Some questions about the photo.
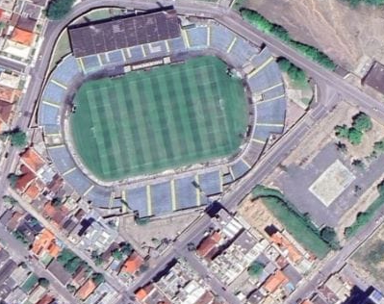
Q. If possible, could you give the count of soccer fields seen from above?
1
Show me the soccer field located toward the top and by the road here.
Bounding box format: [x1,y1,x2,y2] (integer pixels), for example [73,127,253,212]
[73,57,249,181]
